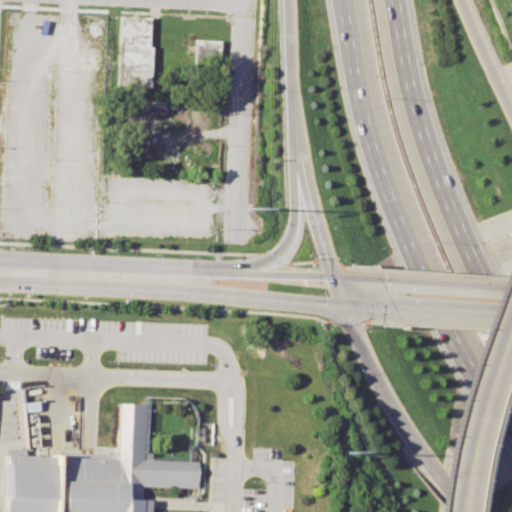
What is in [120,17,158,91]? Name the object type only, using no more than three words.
building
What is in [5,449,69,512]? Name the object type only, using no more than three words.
building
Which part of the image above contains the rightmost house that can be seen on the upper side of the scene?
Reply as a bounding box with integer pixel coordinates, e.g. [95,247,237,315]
[196,40,224,66]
